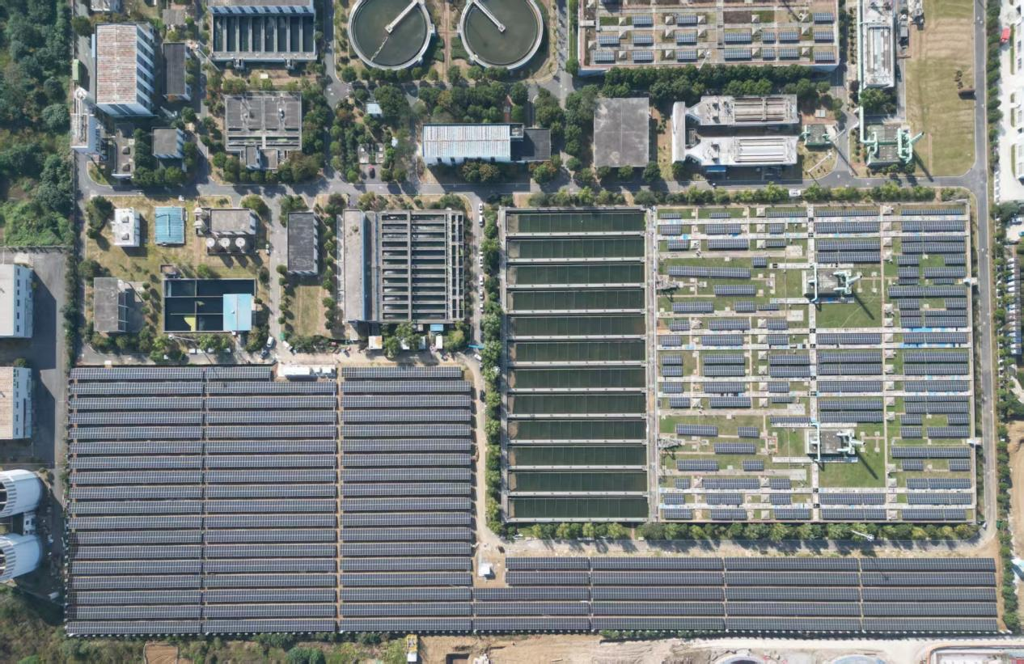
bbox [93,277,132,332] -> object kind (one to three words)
shed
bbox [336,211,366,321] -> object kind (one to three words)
building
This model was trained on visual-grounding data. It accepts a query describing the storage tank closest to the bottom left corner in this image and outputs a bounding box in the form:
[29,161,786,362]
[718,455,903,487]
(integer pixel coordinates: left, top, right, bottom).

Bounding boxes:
[0,534,42,588]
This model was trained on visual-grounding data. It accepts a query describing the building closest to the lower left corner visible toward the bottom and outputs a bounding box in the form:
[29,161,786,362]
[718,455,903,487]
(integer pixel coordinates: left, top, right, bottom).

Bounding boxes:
[22,512,40,534]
